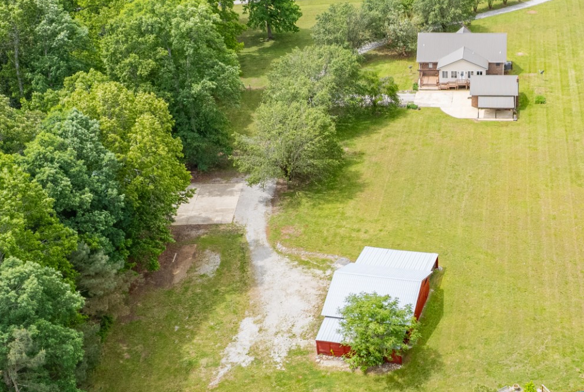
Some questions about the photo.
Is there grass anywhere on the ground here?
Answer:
Yes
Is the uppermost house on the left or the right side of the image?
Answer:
right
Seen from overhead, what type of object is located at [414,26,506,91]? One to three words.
house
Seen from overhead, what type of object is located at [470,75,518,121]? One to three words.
shed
